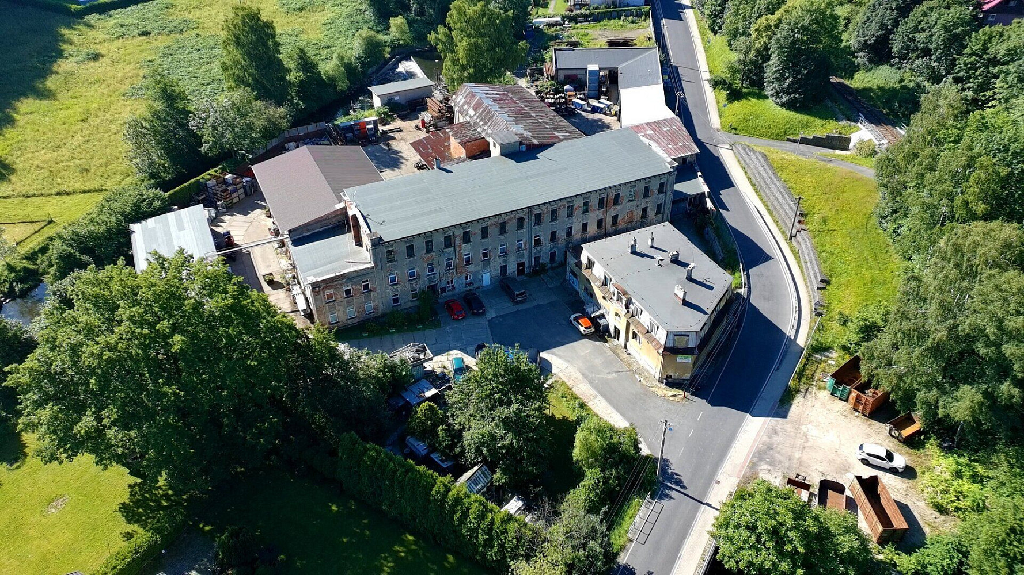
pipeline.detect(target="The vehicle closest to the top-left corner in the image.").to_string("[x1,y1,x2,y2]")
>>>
[221,228,235,247]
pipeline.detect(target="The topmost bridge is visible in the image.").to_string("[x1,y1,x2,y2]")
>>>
[826,106,908,142]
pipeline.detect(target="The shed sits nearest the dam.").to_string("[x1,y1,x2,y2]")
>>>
[368,77,435,110]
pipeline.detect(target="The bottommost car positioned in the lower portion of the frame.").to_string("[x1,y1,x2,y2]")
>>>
[858,444,908,473]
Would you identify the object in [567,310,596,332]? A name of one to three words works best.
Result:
car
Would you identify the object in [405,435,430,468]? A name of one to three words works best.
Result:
shed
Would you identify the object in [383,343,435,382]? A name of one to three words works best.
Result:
shed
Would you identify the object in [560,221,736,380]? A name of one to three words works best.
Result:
house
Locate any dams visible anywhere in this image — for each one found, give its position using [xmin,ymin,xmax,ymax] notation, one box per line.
[392,56,434,82]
